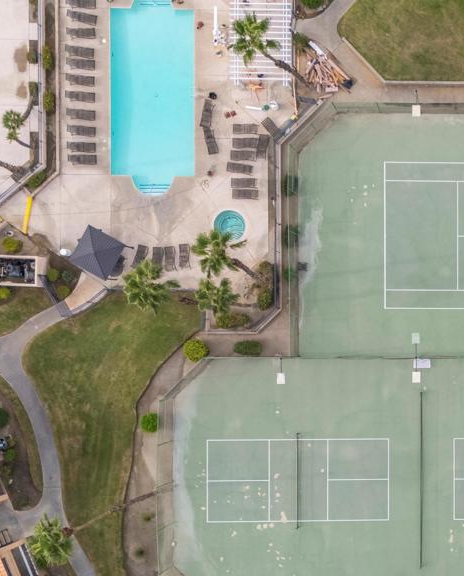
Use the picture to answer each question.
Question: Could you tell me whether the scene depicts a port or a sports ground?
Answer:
sports ground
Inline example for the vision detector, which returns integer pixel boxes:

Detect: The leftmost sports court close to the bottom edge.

[173,359,420,576]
